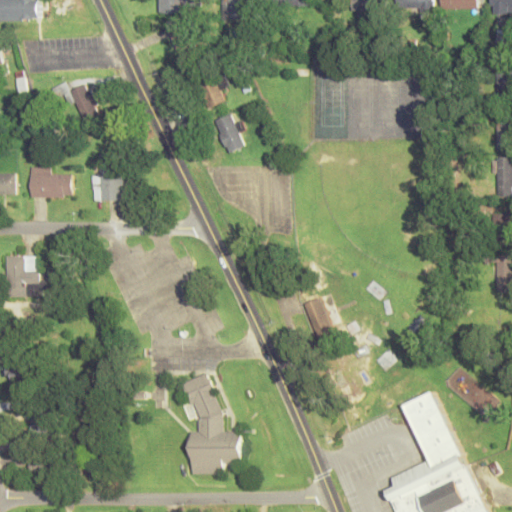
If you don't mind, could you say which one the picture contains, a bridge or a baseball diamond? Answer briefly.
baseball diamond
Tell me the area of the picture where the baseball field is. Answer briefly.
right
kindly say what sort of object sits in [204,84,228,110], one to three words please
house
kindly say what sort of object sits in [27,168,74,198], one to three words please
house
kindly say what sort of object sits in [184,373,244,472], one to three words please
building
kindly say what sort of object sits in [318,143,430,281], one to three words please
baseball field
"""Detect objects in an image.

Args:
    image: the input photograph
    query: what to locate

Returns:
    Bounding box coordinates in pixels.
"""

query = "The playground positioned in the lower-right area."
[446,367,499,406]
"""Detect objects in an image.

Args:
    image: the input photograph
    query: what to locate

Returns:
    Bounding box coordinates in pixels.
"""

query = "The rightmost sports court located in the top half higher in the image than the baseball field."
[348,66,426,140]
